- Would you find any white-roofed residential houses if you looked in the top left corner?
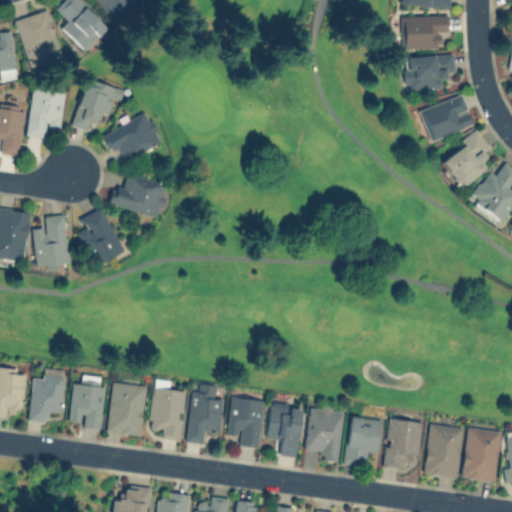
Yes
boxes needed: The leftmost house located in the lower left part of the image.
[0,371,28,423]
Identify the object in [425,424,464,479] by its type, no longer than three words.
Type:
house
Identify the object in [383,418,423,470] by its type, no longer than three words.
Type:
house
